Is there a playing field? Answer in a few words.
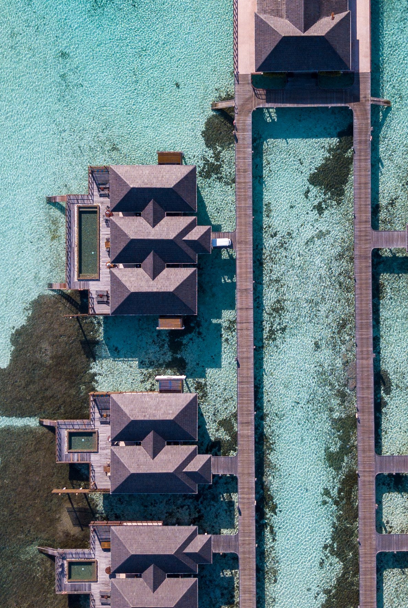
No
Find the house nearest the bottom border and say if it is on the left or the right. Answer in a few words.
left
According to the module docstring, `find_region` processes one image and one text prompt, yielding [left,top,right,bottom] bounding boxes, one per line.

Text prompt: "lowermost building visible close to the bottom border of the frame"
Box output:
[40,518,213,608]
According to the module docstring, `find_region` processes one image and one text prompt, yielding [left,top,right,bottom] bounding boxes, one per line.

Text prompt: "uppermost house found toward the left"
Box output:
[49,150,213,330]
